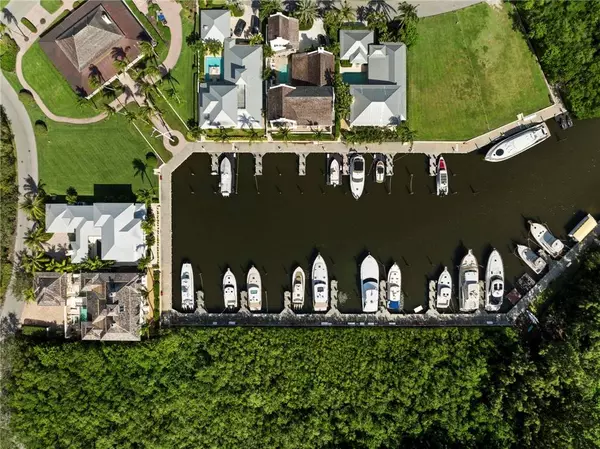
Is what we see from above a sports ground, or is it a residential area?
residential area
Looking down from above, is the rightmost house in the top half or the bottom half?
top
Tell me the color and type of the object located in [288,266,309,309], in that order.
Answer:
white boat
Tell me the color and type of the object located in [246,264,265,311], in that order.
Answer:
white boat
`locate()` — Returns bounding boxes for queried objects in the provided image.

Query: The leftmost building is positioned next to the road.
[33,273,71,307]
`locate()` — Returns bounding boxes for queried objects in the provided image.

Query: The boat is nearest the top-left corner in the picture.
[218,157,236,198]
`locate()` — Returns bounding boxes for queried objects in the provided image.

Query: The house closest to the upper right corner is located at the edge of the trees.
[340,30,407,128]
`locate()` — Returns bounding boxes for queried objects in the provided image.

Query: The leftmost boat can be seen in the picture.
[180,263,199,308]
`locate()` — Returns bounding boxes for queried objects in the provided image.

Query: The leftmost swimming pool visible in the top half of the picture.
[204,55,223,85]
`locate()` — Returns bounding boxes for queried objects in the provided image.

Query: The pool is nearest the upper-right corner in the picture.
[340,72,368,85]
